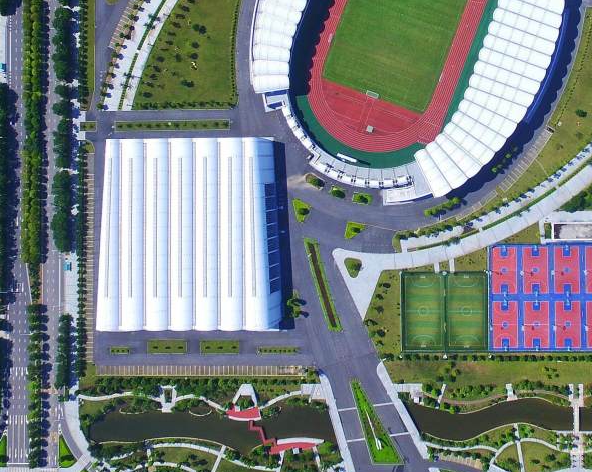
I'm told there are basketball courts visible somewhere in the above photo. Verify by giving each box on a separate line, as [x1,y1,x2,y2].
[523,248,548,294]
[493,301,516,348]
[584,301,592,348]
[554,301,580,348]
[554,248,580,294]
[584,248,592,294]
[493,248,516,294]
[523,301,548,348]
